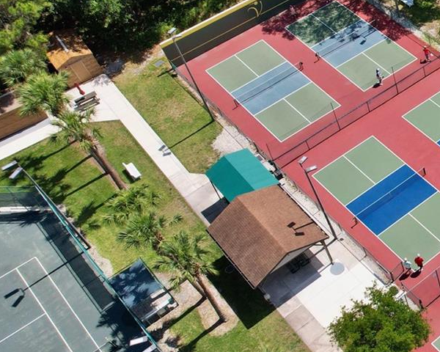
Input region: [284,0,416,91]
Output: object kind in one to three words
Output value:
sports court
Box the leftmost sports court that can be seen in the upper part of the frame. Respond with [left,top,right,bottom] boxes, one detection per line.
[204,40,341,142]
